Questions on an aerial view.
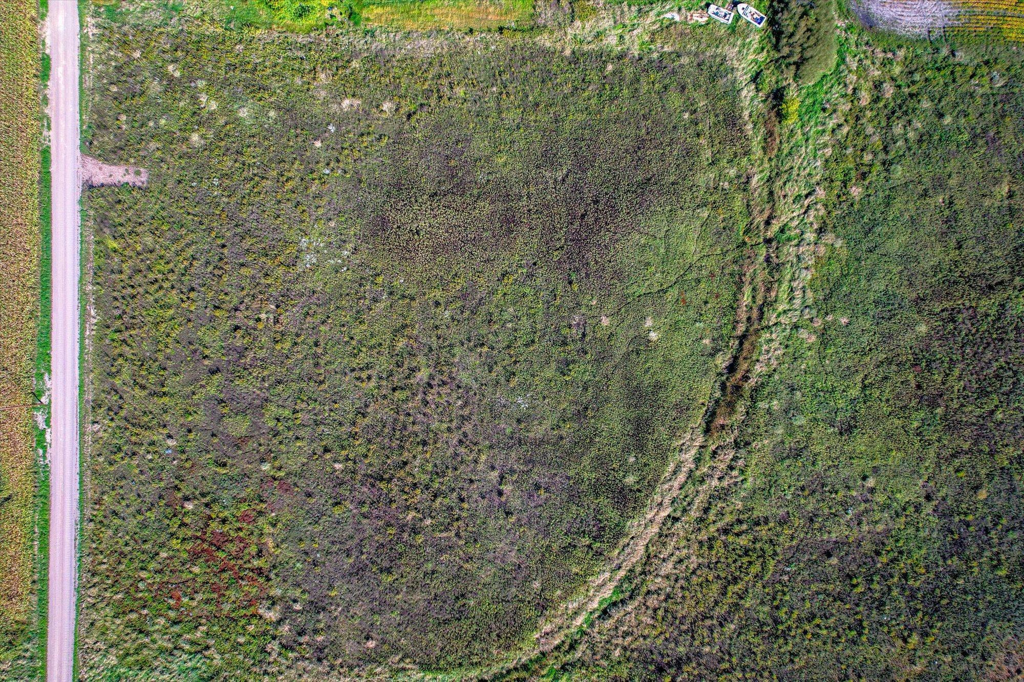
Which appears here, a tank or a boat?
boat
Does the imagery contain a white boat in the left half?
No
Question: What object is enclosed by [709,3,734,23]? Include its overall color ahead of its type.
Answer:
white boat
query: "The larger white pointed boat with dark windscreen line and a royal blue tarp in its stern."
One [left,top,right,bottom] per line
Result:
[738,2,767,26]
